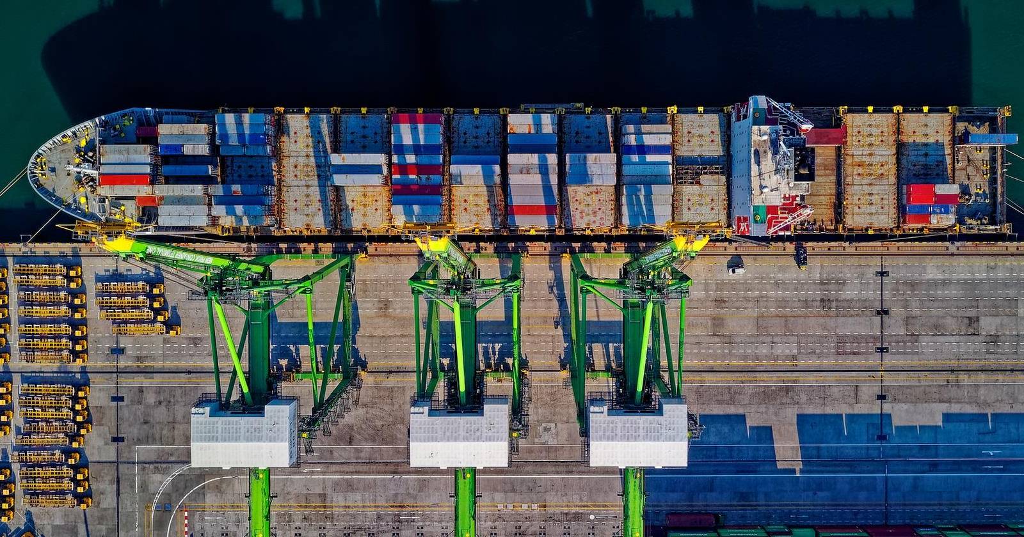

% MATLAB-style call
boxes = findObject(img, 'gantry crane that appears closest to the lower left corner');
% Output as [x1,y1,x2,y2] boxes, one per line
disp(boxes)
[50,217,368,537]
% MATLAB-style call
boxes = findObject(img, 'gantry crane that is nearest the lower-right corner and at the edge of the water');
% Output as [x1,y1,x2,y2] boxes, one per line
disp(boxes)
[558,216,751,537]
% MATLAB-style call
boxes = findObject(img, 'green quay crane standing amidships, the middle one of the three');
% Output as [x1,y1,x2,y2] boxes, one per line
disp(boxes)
[380,216,535,537]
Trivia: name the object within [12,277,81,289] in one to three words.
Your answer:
vehicle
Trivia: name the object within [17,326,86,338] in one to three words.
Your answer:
vehicle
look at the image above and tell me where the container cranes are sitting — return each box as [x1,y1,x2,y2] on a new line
[380,216,535,537]
[558,216,751,537]
[50,217,368,537]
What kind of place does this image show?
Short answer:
port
